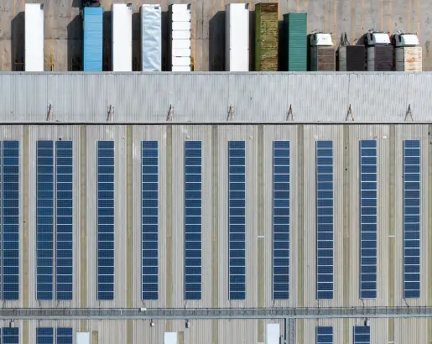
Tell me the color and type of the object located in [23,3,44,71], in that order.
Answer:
white trailer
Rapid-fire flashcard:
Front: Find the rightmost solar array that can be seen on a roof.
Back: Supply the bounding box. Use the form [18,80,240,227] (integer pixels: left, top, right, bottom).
[404,140,423,299]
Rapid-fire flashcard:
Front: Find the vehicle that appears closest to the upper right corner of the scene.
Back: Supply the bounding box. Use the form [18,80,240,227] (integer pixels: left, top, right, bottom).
[391,28,421,47]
